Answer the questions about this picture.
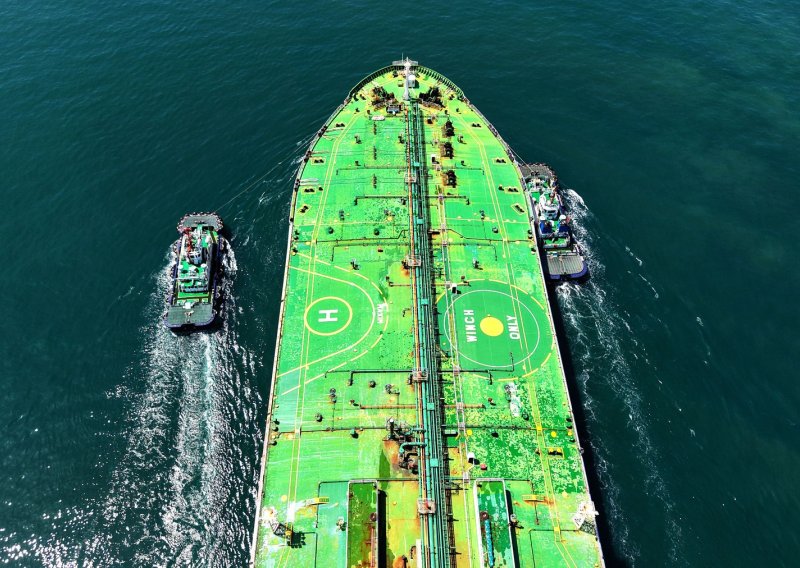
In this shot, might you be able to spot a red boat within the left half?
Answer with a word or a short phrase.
No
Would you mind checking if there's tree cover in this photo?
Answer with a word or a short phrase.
No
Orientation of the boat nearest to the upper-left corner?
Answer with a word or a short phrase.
up and down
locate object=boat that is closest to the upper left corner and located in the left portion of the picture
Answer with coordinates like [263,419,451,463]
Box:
[162,209,223,328]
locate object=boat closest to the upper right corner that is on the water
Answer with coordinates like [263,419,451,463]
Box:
[516,159,588,278]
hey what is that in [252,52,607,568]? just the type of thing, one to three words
ship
